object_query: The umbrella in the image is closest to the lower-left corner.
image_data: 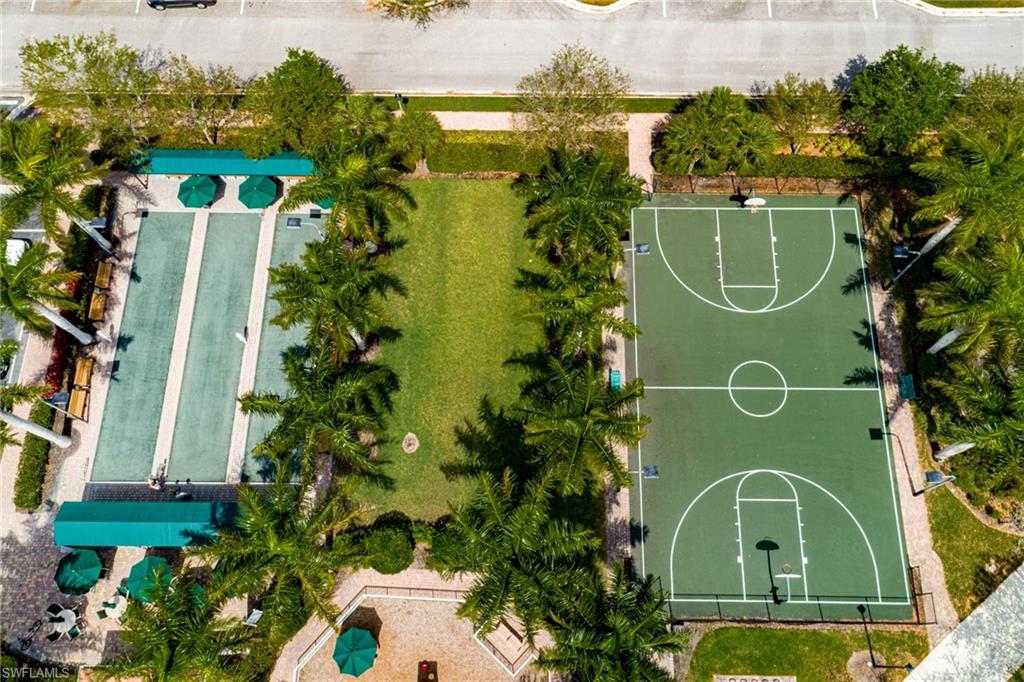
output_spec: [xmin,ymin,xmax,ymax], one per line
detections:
[58,548,107,598]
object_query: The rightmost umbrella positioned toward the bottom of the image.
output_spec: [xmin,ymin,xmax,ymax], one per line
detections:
[331,625,381,677]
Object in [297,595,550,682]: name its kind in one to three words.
playground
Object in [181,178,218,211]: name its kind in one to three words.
umbrella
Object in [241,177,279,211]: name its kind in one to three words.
umbrella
